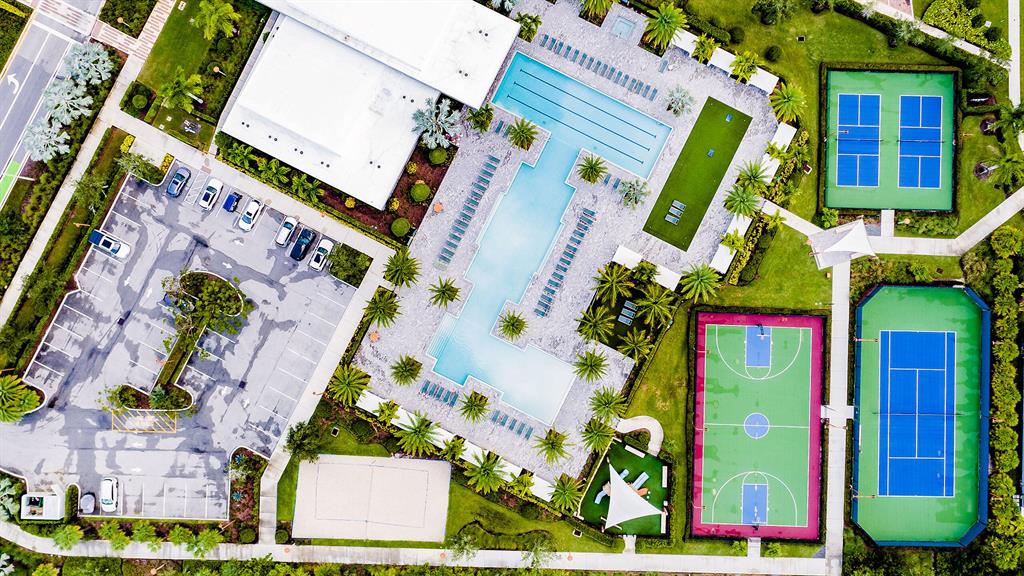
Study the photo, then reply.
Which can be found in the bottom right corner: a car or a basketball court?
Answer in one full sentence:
What appears in the bottom right corner is a basketball court.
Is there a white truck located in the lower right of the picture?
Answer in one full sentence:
No, no white truck can be made out in the lower right of the picture.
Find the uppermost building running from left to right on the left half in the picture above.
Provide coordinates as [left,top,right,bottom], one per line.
[258,0,521,108]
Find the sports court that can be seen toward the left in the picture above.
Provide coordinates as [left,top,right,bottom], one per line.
[292,455,451,542]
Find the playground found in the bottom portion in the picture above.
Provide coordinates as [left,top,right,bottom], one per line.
[580,440,668,537]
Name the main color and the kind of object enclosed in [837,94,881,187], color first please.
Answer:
blue sports court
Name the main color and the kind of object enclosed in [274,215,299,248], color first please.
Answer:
white vehicle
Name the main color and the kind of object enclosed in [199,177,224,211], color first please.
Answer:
white car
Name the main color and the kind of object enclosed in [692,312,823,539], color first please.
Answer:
green basketball court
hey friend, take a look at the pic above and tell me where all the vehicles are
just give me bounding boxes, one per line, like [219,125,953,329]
[167,166,191,200]
[88,230,132,258]
[290,228,316,262]
[274,215,299,248]
[309,239,334,272]
[80,493,98,513]
[223,194,242,212]
[199,177,224,211]
[239,198,263,232]
[101,477,118,512]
